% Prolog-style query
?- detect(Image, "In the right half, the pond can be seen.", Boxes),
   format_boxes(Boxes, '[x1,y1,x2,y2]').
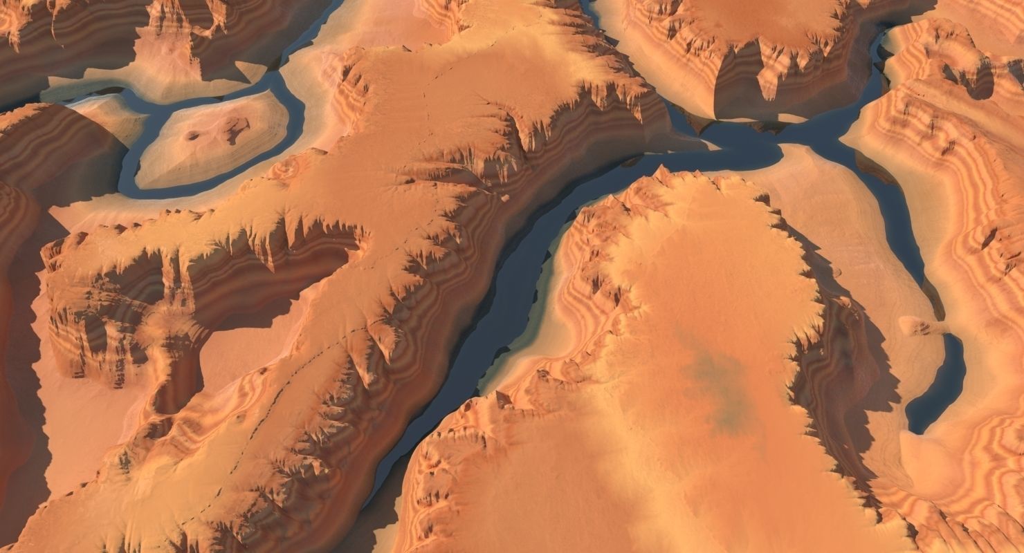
[907,335,966,433]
